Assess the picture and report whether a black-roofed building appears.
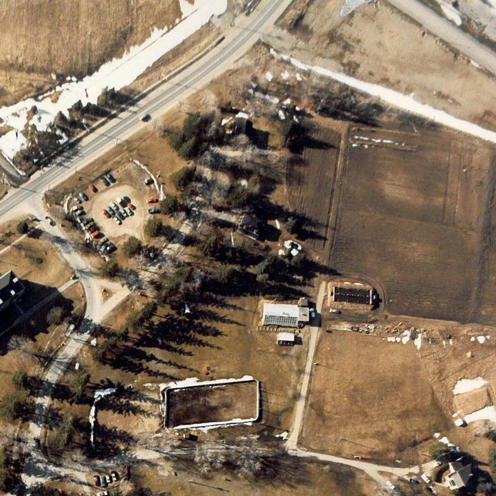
Yes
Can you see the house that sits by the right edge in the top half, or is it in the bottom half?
bottom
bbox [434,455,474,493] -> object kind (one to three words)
house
